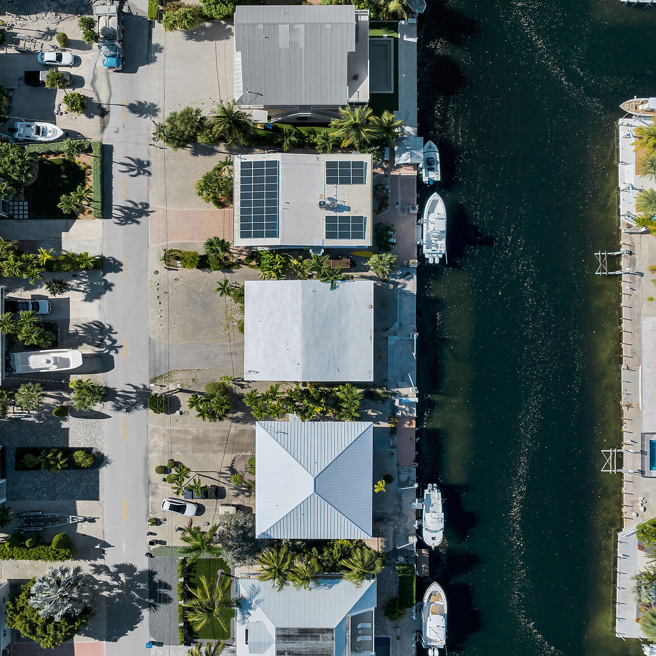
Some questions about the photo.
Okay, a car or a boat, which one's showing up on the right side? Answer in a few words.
boat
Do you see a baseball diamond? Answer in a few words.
No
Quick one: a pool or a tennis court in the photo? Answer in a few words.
pool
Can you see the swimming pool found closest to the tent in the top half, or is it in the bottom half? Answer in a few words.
top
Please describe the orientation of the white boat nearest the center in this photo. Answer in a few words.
up and down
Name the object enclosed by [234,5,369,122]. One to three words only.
house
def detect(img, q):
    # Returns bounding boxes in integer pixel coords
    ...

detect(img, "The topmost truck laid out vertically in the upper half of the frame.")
[96,0,122,74]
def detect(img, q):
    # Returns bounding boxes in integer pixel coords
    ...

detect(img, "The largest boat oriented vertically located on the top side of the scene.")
[424,193,446,263]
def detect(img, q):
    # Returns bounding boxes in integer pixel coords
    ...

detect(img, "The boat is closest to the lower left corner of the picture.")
[10,350,82,373]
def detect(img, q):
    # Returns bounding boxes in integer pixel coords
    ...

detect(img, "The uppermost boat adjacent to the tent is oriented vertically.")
[424,140,439,187]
